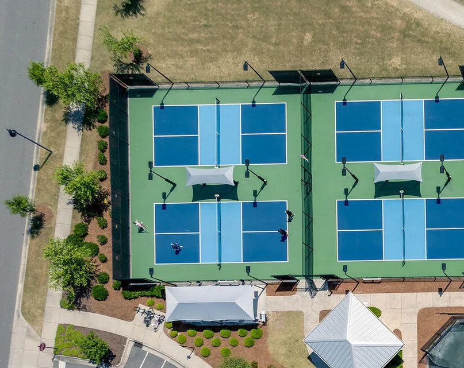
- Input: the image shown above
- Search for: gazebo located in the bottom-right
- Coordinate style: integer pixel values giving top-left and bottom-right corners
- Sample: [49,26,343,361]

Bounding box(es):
[303,292,406,368]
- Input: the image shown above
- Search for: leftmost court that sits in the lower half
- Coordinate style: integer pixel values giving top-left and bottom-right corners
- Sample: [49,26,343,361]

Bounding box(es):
[129,183,313,282]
